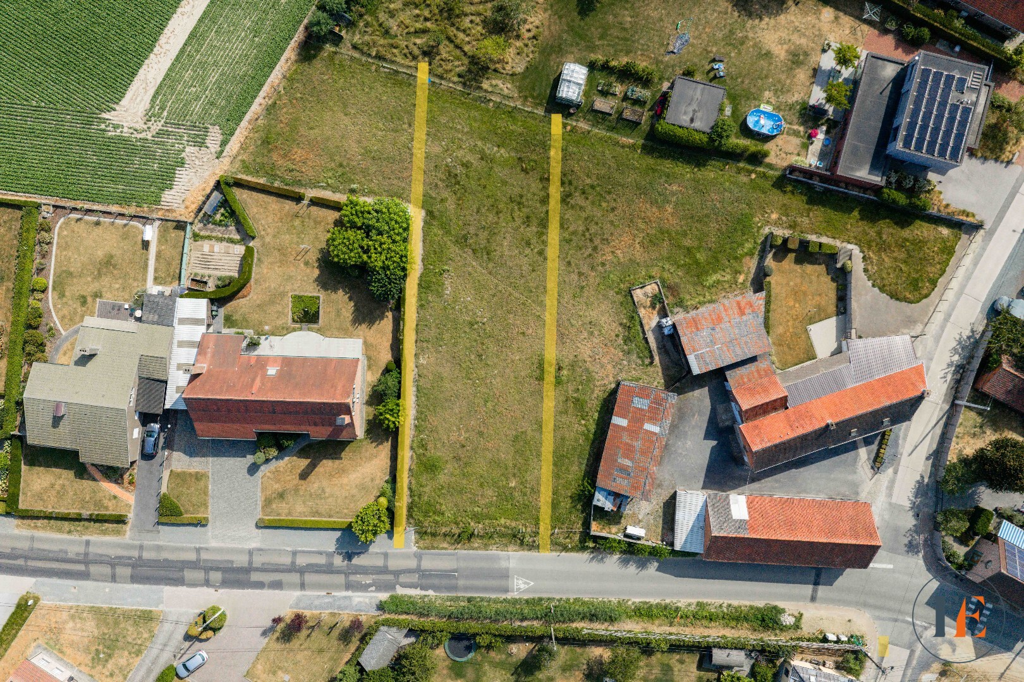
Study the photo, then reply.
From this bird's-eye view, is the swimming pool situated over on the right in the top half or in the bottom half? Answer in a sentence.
Seen from above, the swimming pool situated over on the right lies in the top half of the view.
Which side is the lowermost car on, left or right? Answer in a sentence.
You can find the lowermost car on the left side of the picture.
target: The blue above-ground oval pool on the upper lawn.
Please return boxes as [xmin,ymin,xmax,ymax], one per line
[743,108,785,138]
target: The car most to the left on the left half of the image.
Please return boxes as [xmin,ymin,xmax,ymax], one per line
[143,421,163,455]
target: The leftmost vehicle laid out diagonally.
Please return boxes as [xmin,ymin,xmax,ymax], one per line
[177,650,211,677]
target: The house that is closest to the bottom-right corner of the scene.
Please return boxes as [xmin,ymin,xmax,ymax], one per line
[952,520,1024,613]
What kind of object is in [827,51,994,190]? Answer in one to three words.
house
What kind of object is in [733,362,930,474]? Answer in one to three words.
house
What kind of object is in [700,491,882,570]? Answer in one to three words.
barn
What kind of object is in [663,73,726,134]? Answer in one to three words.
shed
